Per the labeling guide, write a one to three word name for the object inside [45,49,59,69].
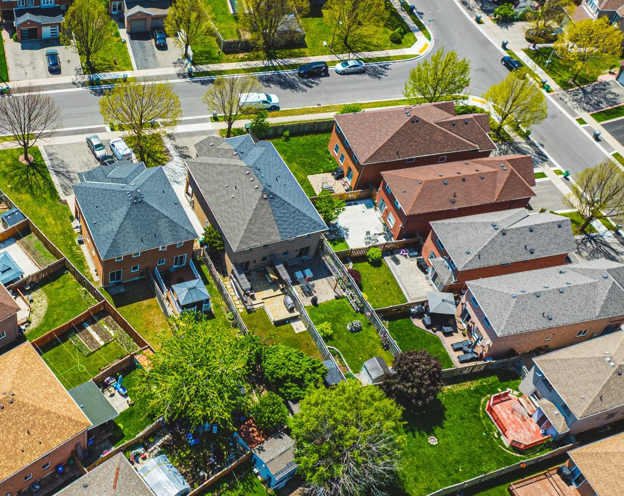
vehicle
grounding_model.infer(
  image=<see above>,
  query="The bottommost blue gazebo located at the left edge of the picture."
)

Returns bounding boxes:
[0,250,26,288]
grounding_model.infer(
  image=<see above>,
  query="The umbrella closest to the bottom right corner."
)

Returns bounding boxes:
[427,292,459,314]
